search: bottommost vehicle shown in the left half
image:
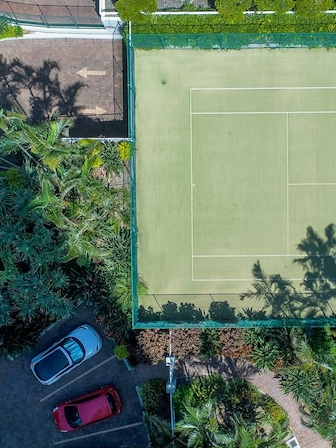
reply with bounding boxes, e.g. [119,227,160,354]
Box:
[52,385,127,431]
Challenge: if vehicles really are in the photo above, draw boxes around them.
[26,321,106,387]
[52,385,127,431]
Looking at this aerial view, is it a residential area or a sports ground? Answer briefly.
sports ground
